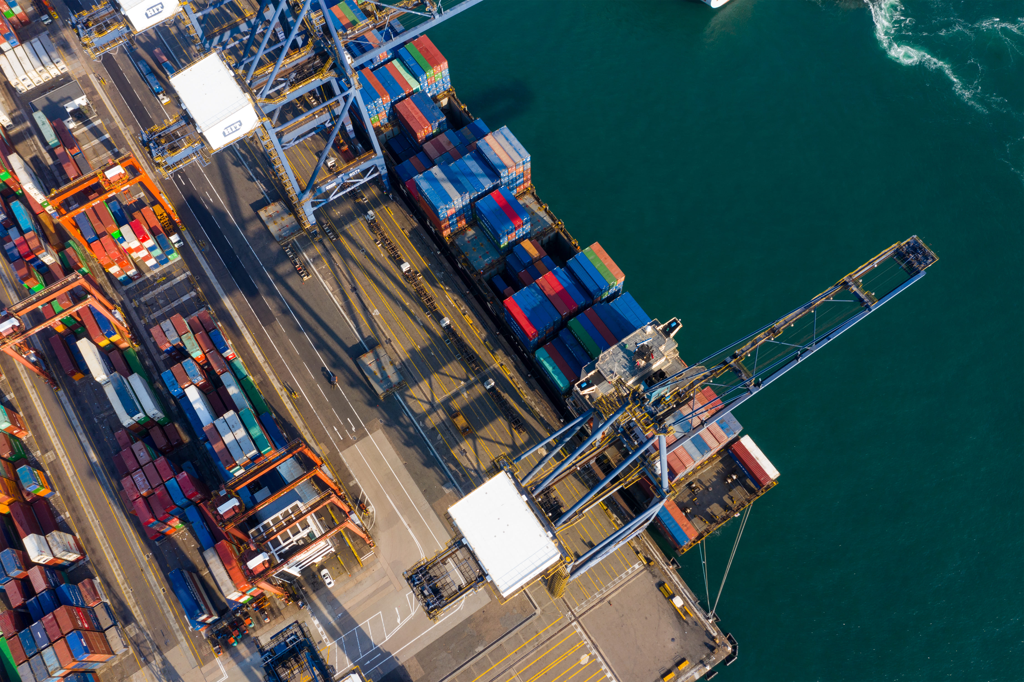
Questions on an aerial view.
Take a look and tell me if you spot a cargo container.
Yes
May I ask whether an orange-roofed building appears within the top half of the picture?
No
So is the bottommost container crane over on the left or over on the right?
left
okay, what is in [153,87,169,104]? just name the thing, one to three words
vehicle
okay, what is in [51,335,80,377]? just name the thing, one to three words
shipping container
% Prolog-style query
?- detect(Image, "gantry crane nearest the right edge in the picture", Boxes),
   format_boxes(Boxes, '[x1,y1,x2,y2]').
[397,231,946,638]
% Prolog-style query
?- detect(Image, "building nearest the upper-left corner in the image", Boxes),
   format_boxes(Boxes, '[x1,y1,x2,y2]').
[29,79,100,143]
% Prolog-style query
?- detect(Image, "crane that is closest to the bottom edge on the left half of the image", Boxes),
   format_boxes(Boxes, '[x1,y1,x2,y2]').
[241,605,377,682]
